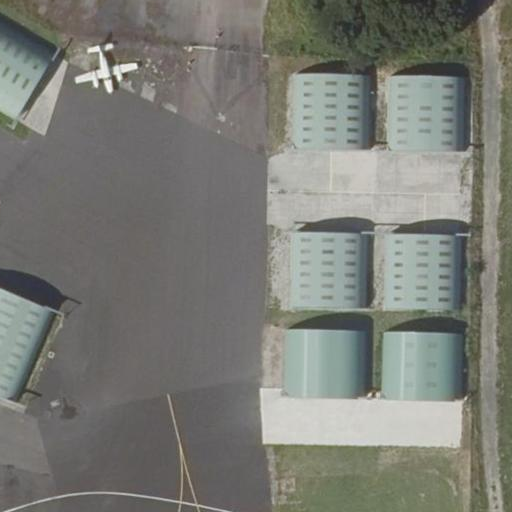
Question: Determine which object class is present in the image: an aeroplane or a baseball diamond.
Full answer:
I can see an aeroplane in this picture.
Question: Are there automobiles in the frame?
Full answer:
No, no automobile is visible in the scene.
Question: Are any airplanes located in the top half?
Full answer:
Yes, an airplane is visible in the top half.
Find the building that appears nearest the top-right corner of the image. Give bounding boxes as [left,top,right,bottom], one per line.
[383,73,474,150]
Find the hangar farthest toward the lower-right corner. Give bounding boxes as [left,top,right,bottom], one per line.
[382,331,466,402]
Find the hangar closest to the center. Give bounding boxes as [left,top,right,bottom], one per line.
[286,232,375,310]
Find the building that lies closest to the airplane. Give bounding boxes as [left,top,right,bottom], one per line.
[0,17,58,120]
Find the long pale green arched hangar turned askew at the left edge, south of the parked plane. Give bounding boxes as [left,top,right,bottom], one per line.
[0,289,62,410]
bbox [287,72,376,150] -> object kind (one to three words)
hangar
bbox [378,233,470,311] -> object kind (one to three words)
hangar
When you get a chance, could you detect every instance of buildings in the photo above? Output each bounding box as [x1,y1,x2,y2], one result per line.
[383,73,474,150]
[286,232,375,310]
[382,331,466,402]
[285,329,368,400]
[378,233,470,311]
[287,72,376,150]
[0,289,62,410]
[0,17,58,120]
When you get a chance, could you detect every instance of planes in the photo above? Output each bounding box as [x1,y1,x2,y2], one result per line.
[74,43,138,94]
